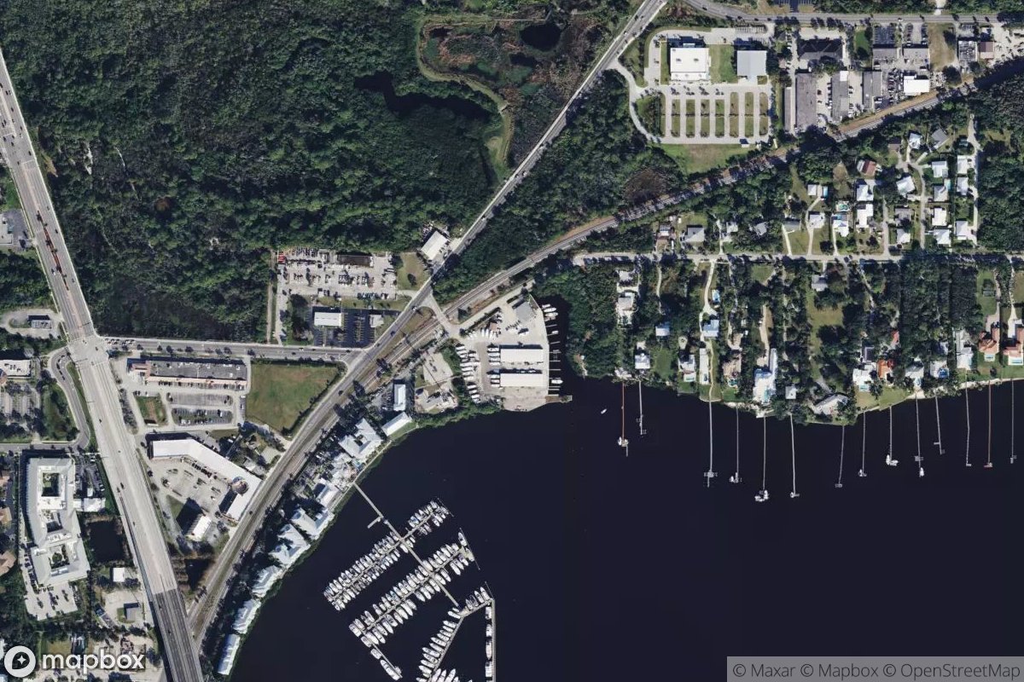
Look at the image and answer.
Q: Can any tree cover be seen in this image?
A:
Yes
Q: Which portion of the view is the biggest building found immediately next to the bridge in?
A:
bottom left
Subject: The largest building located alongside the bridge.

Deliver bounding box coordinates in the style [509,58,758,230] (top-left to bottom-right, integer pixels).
[28,457,89,585]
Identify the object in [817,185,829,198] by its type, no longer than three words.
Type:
swimming pool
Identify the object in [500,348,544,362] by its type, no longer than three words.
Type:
shed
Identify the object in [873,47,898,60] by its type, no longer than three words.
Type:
building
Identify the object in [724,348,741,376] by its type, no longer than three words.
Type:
house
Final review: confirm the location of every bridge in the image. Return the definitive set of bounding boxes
[104,460,202,682]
